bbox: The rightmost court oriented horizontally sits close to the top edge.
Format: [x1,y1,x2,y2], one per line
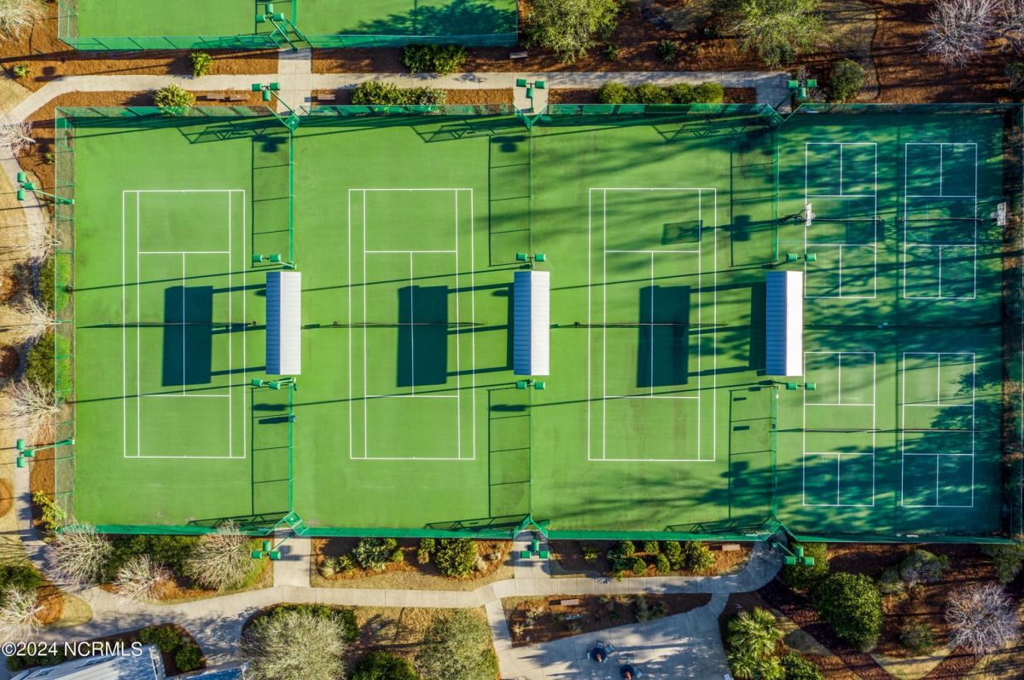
[295,0,518,49]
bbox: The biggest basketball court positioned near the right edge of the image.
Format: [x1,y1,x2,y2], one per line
[773,110,1005,538]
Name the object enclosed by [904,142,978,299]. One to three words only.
sports court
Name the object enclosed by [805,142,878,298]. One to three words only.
sports court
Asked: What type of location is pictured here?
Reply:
sports ground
